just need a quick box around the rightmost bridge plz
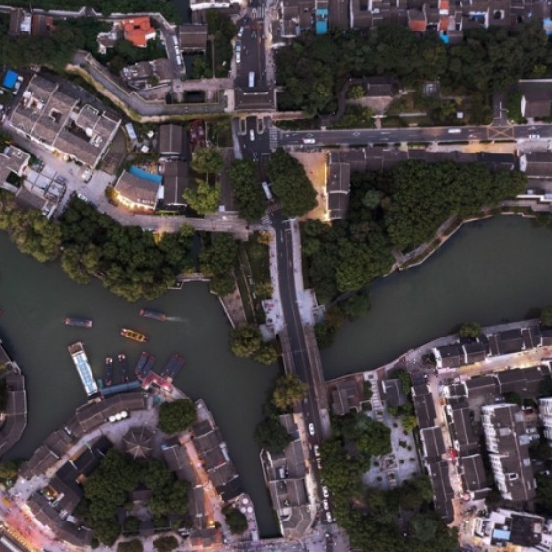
[278,328,327,395]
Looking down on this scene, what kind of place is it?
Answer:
residential area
